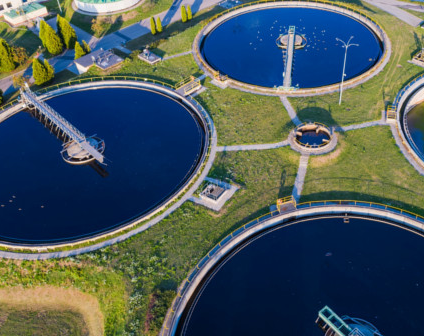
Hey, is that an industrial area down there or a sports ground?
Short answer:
industrial area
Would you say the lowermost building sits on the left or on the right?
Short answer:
left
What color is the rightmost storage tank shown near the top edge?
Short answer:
blue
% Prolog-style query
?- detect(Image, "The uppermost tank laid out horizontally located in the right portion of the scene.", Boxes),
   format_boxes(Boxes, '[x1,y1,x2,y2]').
[196,0,386,94]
